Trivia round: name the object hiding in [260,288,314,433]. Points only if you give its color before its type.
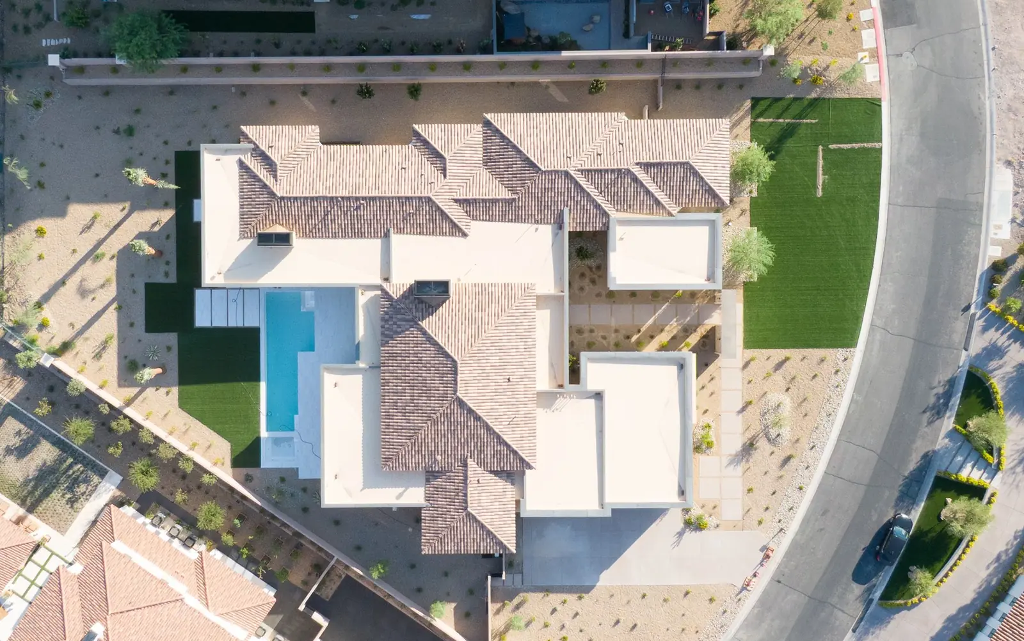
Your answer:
blue swimming pool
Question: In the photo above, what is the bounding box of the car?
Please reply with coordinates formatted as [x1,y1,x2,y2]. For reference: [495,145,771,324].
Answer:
[875,513,911,568]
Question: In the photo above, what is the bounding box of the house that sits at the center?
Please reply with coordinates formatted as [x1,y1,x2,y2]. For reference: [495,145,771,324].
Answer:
[201,112,731,557]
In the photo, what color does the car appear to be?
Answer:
black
